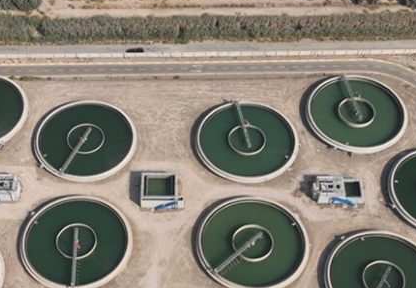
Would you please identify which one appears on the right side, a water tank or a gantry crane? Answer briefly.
water tank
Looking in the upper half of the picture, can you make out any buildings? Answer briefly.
No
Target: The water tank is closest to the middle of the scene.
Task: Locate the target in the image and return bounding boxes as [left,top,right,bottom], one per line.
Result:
[198,99,301,183]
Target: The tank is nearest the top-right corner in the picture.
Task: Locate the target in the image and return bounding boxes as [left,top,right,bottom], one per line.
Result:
[307,73,406,156]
